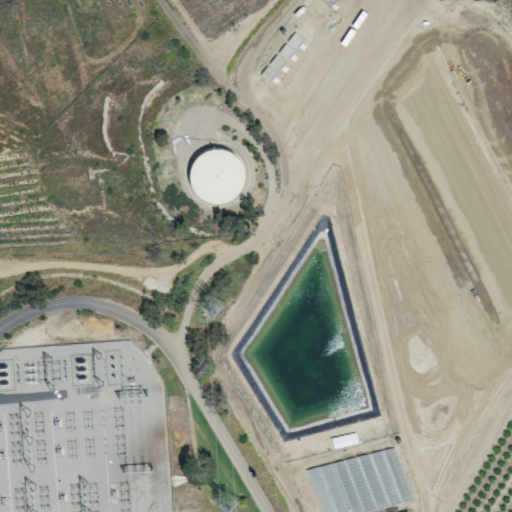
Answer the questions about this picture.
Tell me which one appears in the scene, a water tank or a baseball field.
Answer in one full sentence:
This aerial view contains a water tank.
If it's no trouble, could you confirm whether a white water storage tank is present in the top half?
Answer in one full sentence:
Yes, a white water storage tank shows up in the top half.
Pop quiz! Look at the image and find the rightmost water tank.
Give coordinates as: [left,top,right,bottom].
[190,148,246,206]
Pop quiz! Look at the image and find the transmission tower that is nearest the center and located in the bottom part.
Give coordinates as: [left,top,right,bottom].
[202,306,224,320]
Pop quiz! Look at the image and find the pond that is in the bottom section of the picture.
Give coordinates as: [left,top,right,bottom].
[232,214,380,440]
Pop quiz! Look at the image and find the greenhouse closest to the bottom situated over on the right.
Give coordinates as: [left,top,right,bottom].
[306,448,414,512]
